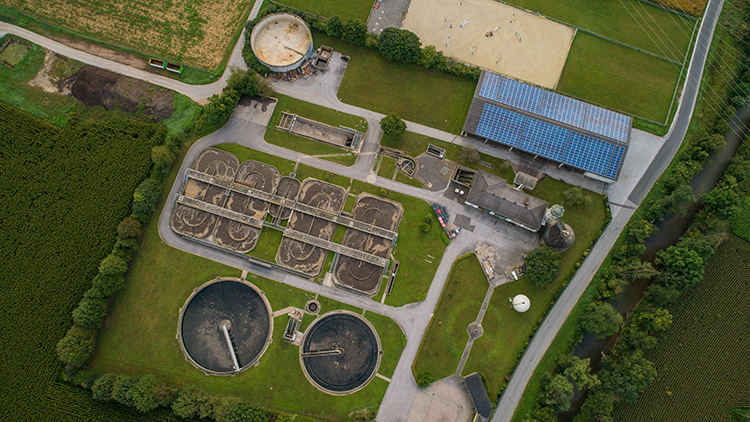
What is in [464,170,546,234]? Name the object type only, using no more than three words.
building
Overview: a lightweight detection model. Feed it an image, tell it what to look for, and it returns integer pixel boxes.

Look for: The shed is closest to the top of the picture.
[513,171,538,192]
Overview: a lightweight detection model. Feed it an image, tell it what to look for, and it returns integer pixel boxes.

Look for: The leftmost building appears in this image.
[282,310,300,344]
